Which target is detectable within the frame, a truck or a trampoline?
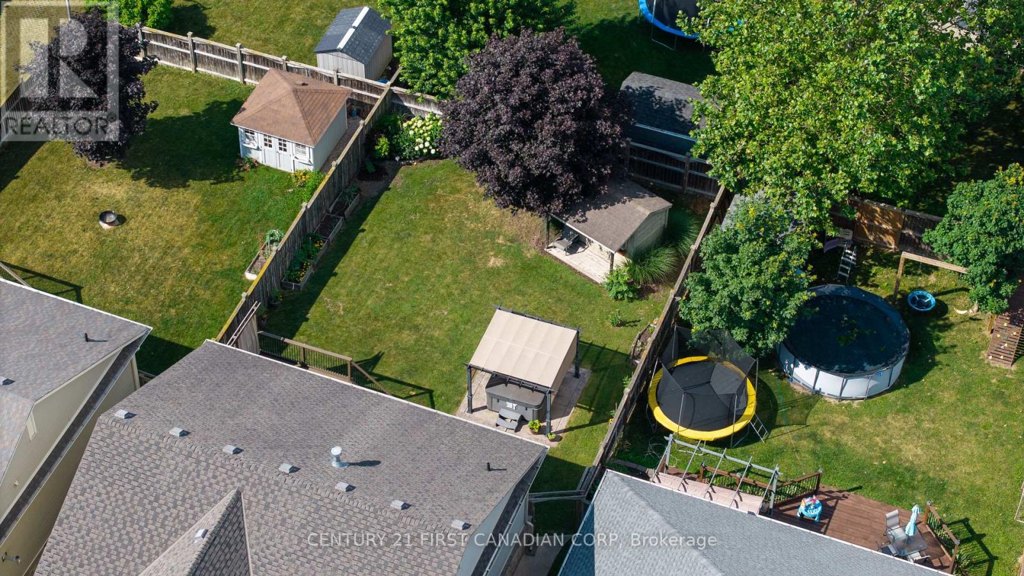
trampoline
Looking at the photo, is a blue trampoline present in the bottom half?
No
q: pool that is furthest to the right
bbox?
[773,286,910,408]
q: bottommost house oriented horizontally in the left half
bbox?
[30,339,552,576]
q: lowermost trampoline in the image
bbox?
[644,325,761,450]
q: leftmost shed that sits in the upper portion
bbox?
[229,69,353,176]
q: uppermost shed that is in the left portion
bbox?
[313,6,394,81]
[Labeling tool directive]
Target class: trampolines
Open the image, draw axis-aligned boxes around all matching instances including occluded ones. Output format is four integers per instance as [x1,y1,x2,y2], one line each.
[644,325,761,450]
[638,0,726,51]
